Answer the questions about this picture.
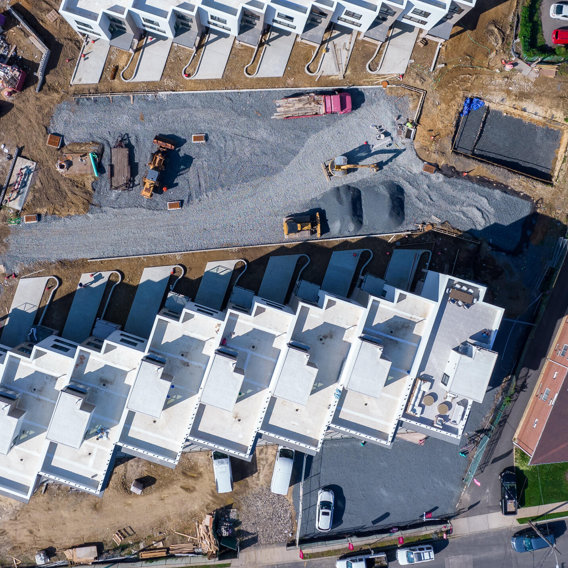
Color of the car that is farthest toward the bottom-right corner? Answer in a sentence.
The car that is farthest toward the bottom-right corner is blue.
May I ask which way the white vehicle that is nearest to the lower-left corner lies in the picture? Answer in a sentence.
The white vehicle that is nearest to the lower-left corner is oriented vertically.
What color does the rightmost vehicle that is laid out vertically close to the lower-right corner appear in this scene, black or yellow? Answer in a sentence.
The rightmost vehicle that is laid out vertically close to the lower-right corner is black.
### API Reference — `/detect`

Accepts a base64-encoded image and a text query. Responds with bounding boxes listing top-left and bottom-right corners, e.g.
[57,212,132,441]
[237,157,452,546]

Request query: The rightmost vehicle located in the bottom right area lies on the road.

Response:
[510,529,556,556]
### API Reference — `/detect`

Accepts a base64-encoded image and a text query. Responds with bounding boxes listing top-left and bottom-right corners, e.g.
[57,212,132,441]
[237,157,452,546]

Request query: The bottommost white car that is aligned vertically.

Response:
[315,489,337,532]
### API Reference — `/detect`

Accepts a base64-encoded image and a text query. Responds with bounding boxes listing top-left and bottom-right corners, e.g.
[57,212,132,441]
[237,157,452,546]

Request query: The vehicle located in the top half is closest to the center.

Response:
[283,211,319,238]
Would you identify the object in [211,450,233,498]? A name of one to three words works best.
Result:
vehicle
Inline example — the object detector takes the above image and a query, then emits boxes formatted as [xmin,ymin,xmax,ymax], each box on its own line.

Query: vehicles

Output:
[315,489,337,532]
[290,89,352,118]
[510,529,556,556]
[283,211,319,238]
[396,545,436,568]
[317,152,379,184]
[548,5,568,21]
[497,469,518,518]
[336,551,390,568]
[137,134,175,199]
[211,450,233,498]
[271,445,297,499]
